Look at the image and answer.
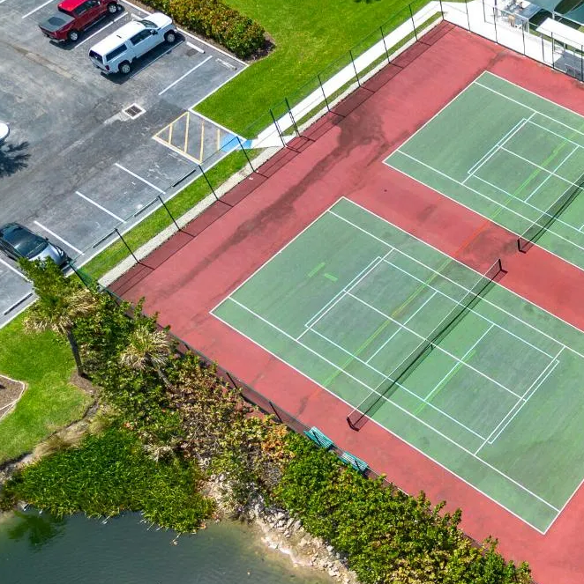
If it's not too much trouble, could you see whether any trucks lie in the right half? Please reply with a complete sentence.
No, looking in the right half, there is no truck.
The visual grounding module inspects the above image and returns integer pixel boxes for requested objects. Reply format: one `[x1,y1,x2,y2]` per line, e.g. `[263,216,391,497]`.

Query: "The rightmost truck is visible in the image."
[87,16,174,78]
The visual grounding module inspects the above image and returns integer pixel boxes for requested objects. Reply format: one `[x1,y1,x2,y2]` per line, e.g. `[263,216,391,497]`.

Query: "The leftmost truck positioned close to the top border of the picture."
[34,0,118,45]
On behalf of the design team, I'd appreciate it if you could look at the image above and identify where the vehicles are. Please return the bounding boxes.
[34,0,118,45]
[0,221,67,275]
[87,16,174,78]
